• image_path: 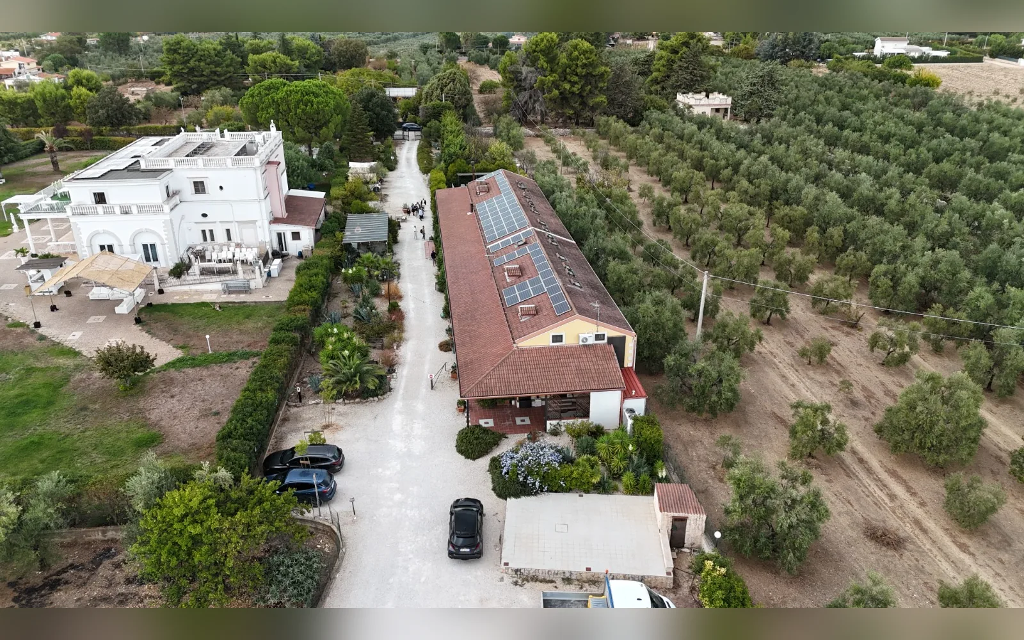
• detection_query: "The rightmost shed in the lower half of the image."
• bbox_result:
[651,478,710,551]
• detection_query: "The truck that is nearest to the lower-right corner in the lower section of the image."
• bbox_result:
[543,573,684,640]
